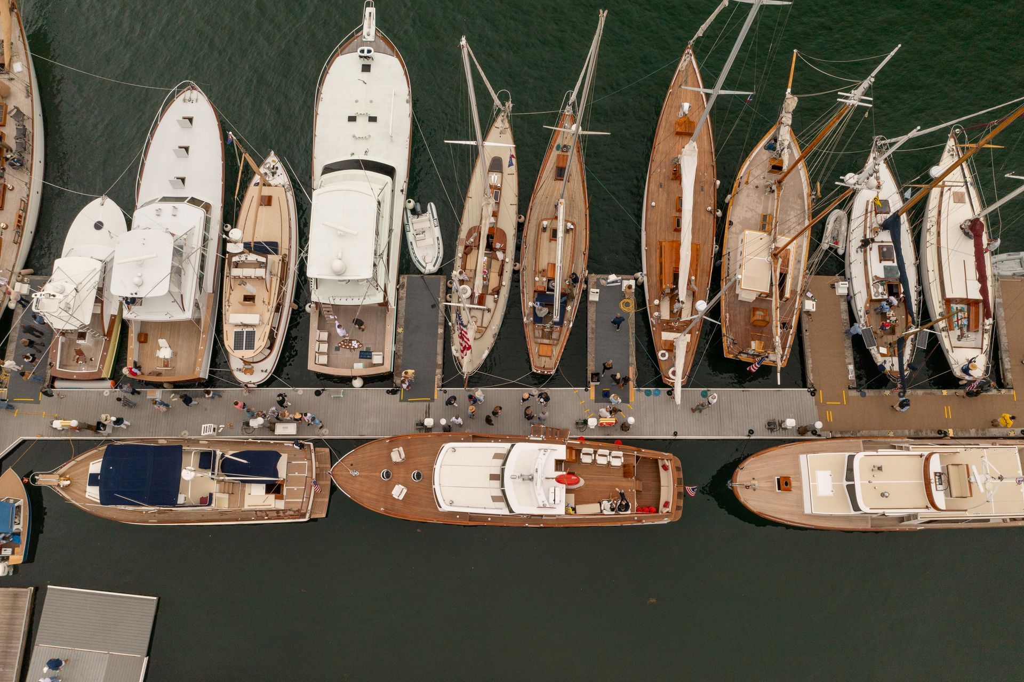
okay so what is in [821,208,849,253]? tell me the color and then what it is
gray boat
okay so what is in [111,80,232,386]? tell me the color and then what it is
white boat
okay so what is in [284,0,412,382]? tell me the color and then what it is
white boat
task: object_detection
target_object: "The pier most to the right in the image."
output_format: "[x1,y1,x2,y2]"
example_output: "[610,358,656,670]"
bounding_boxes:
[993,276,1024,389]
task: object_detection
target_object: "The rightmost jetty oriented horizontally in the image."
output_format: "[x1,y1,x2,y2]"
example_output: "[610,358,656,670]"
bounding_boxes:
[819,389,1024,437]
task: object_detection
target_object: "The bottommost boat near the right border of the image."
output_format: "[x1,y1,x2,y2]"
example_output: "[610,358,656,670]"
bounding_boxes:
[730,437,1024,531]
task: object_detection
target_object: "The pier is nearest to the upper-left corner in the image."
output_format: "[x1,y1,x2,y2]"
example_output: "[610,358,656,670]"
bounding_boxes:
[2,275,54,388]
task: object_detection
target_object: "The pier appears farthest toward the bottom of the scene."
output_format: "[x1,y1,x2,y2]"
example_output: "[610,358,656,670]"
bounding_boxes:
[26,644,152,682]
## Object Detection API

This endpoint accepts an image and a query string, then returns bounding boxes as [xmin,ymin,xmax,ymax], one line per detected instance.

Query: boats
[284,0,412,382]
[915,113,1024,379]
[0,194,128,381]
[331,432,686,527]
[642,0,792,408]
[821,208,849,253]
[730,437,1024,531]
[842,95,1024,393]
[111,80,232,386]
[992,250,1024,277]
[405,195,444,274]
[443,30,518,388]
[21,439,331,525]
[716,44,922,385]
[222,130,313,387]
[0,0,51,341]
[520,0,611,375]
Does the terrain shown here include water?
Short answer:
Yes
